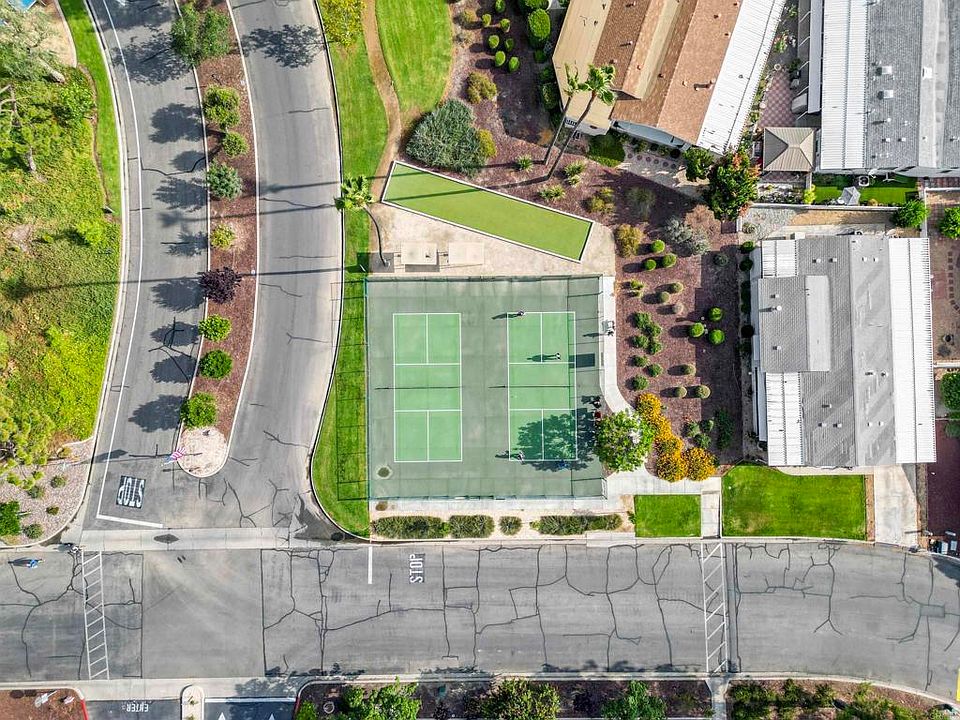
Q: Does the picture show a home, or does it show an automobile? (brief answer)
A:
home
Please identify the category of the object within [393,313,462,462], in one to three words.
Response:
sports court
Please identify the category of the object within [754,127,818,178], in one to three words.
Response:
gazebo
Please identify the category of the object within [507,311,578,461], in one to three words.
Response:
sports court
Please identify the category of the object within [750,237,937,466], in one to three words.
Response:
house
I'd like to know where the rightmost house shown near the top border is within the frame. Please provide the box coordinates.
[801,0,960,182]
